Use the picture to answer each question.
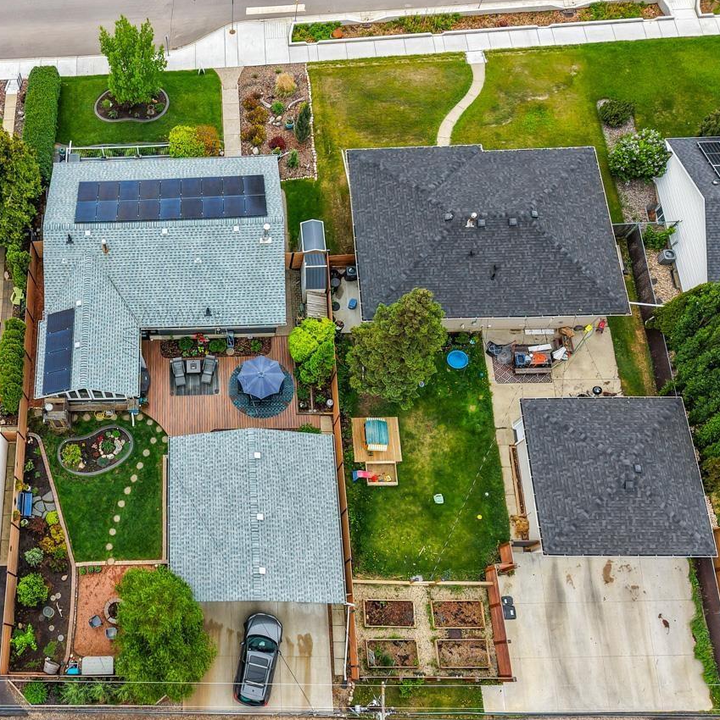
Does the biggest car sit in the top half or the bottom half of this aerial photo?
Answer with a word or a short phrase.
bottom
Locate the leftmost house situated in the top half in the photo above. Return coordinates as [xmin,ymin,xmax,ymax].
[31,154,287,407]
